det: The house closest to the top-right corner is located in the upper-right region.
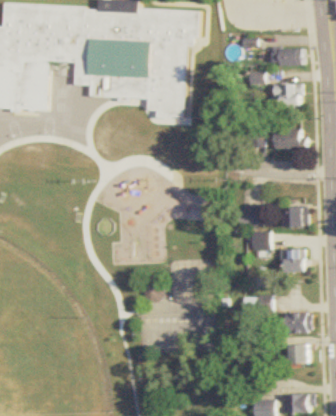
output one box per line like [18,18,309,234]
[272,49,309,66]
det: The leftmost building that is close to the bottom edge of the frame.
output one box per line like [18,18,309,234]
[254,400,279,416]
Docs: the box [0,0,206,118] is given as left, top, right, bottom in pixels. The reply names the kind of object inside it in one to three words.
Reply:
building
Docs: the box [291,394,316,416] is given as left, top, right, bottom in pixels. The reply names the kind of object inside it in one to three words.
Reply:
house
